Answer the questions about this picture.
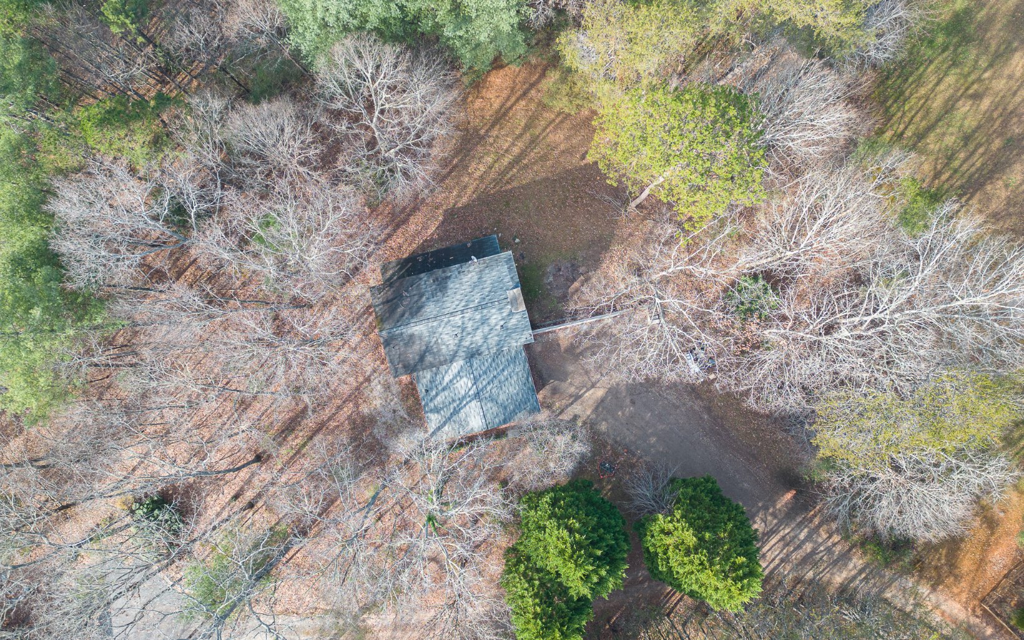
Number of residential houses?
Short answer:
one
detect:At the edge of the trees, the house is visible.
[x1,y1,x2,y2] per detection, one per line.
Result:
[370,235,542,439]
